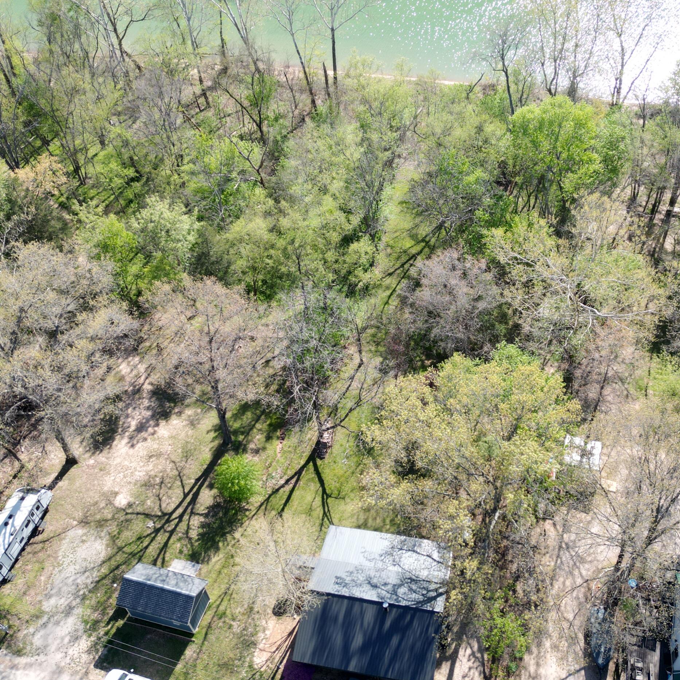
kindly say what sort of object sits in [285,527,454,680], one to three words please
house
